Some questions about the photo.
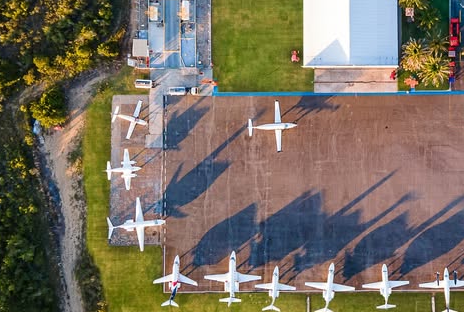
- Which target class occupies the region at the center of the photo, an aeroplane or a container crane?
aeroplane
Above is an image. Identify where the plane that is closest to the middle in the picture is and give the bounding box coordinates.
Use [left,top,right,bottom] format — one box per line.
[248,100,298,153]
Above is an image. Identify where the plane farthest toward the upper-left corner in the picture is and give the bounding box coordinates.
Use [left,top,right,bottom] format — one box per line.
[112,99,148,140]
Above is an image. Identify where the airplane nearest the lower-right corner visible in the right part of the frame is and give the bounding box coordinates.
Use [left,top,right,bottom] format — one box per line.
[418,269,464,312]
